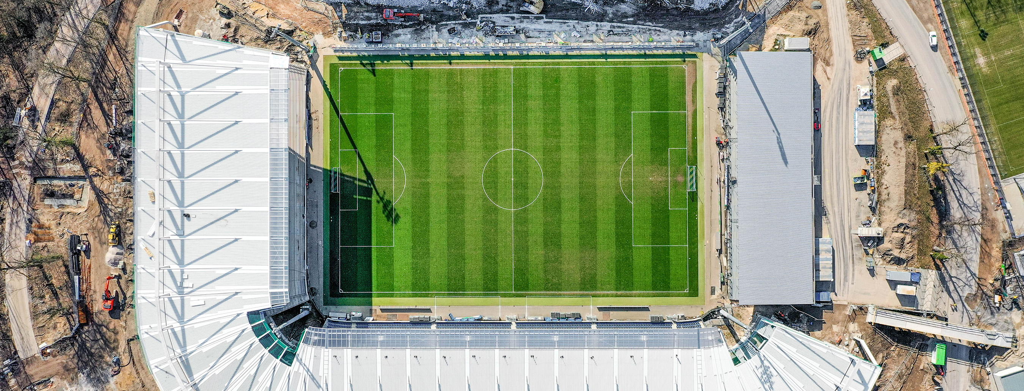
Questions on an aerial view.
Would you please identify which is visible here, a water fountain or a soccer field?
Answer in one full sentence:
This aerial view contains a soccer field.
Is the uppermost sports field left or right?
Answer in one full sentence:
You can find the uppermost sports field on the right side of the picture.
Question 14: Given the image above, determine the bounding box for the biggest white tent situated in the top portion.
[853,111,875,146]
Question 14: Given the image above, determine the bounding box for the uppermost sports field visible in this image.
[944,0,1024,179]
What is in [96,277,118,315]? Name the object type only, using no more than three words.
work vehicle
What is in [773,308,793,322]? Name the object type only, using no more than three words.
work vehicle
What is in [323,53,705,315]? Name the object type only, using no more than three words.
soccer field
